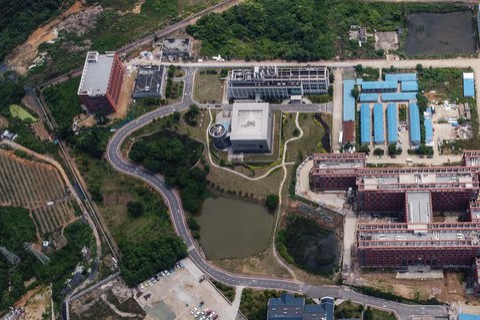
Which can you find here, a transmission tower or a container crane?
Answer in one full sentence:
The one in the frame is a transmission tower.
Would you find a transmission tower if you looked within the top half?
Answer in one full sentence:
No, I see no transmission tower within the top half.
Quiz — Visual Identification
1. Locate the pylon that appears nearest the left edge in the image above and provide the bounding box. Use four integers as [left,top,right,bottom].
[0,241,20,266]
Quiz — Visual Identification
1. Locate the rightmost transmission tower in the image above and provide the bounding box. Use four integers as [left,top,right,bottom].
[20,240,52,271]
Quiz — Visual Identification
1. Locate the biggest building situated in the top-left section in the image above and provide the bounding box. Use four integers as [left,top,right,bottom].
[76,50,124,113]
